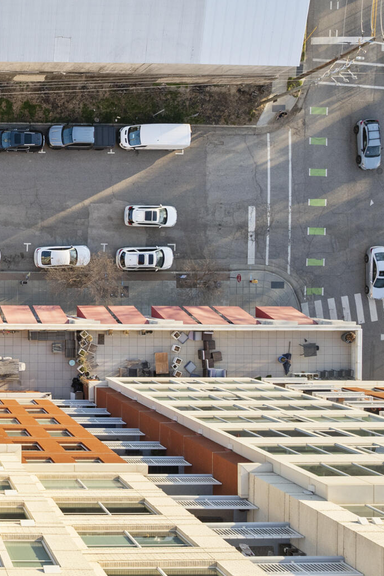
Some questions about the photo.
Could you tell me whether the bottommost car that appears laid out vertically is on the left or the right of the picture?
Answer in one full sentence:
You can find the bottommost car that appears laid out vertically on the right side of the picture.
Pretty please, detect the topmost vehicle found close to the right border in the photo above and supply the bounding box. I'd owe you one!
[353,119,383,171]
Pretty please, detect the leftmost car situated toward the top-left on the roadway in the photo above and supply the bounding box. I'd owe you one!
[0,126,45,154]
